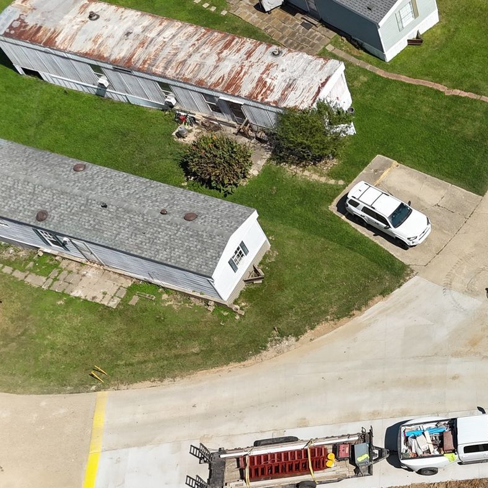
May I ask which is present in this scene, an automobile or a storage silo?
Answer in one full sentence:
Looking from above, you can make out an automobile.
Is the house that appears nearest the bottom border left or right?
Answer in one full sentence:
The house that appears nearest the bottom border sits on the left side.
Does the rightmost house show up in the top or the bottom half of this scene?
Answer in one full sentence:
Seen from above, the rightmost house lies in the top half of the view.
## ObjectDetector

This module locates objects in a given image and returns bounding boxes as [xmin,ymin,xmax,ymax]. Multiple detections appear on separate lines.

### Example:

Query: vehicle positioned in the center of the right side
[344,180,432,249]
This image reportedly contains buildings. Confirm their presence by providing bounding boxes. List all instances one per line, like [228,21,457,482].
[0,141,270,304]
[287,0,442,63]
[0,0,360,143]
